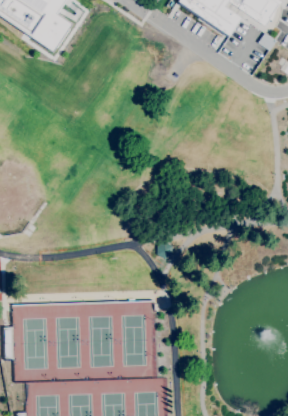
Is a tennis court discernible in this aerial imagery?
Yes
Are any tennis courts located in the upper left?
No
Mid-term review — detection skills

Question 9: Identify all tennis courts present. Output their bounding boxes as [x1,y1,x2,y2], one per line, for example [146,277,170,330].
[123,315,149,366]
[90,316,115,367]
[70,394,94,416]
[37,394,61,416]
[22,318,48,369]
[102,392,127,416]
[56,317,82,368]
[136,392,160,416]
